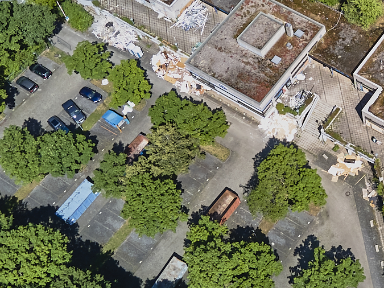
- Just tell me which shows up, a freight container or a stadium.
freight container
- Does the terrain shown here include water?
No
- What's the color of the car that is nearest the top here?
black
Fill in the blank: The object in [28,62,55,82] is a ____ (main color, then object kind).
black car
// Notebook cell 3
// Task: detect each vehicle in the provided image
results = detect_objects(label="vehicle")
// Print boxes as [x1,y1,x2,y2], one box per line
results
[58,98,90,124]
[44,113,74,133]
[14,75,43,95]
[28,62,55,82]
[76,83,106,106]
